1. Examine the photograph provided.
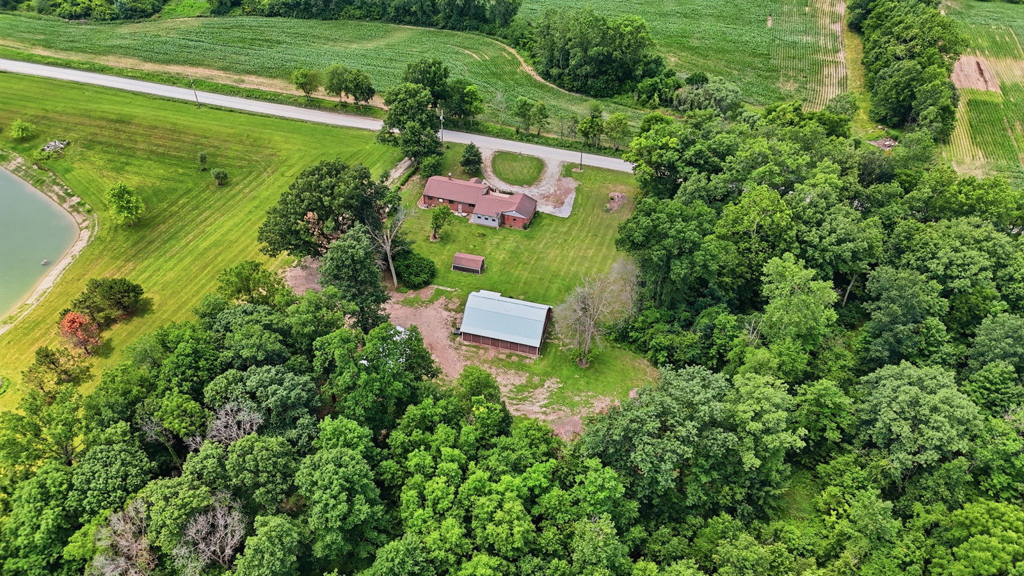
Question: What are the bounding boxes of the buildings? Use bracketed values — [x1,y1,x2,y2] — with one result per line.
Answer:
[451,252,486,275]
[460,289,552,356]
[421,175,540,228]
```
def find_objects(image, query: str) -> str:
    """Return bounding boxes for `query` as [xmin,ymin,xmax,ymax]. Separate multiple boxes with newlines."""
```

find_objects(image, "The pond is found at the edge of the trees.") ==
[0,165,80,320]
